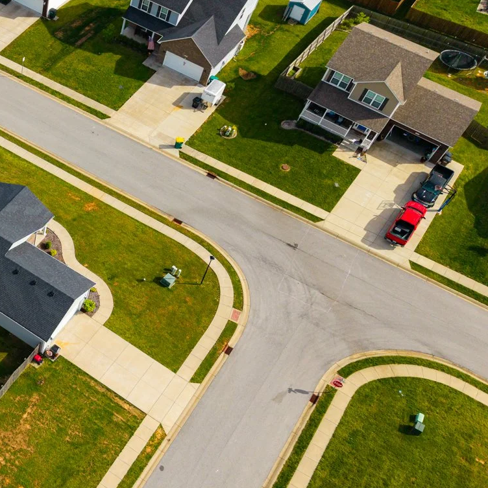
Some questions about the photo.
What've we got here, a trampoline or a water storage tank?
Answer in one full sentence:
The image shows a trampoline.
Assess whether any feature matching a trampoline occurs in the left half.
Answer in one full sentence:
No, no trampoline can be made out in the left half.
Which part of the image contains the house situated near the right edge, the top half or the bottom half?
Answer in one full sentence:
Seen from above, the house situated near the right edge lies in the top half of the view.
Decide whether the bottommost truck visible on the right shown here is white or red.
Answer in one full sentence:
The bottommost truck visible on the right is red.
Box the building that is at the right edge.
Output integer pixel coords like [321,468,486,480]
[301,23,481,162]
